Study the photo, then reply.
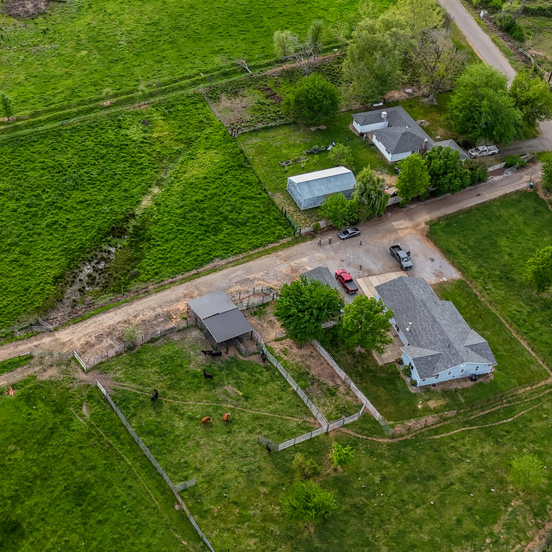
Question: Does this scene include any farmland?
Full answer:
Yes, there is farmland in the image.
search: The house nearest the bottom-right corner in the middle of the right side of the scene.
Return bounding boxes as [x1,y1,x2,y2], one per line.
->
[376,274,498,386]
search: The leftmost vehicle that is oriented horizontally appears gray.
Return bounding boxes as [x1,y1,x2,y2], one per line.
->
[338,227,362,240]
